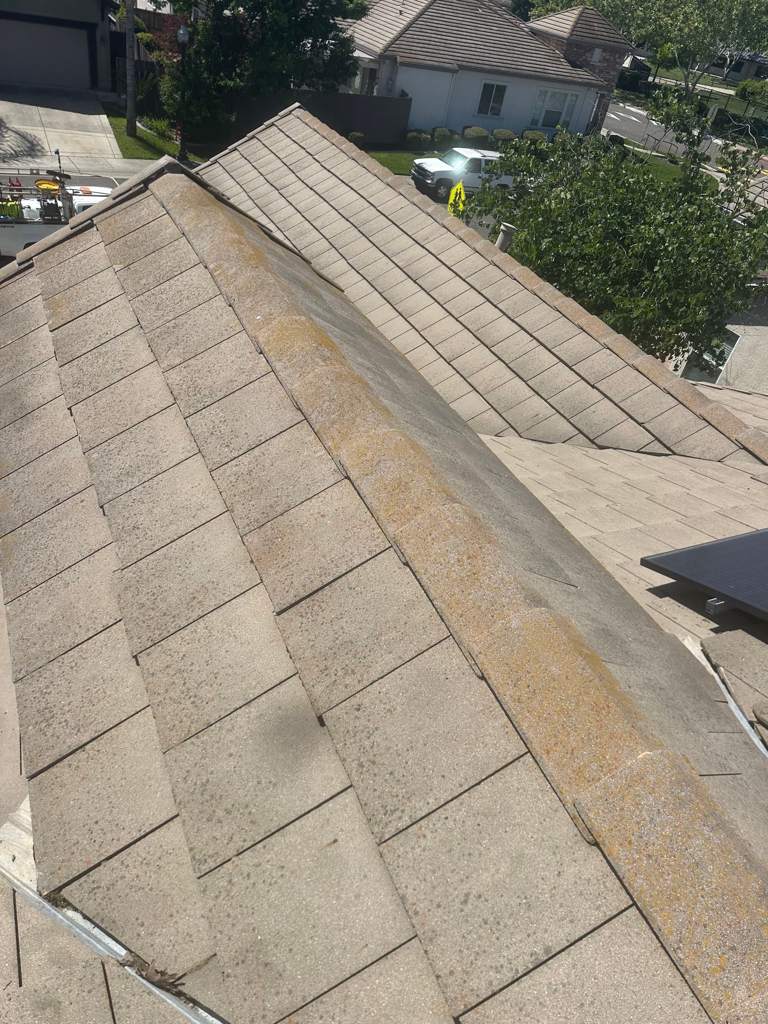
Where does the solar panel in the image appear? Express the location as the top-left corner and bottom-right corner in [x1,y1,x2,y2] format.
[632,526,768,623]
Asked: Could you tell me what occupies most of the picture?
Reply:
buildings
